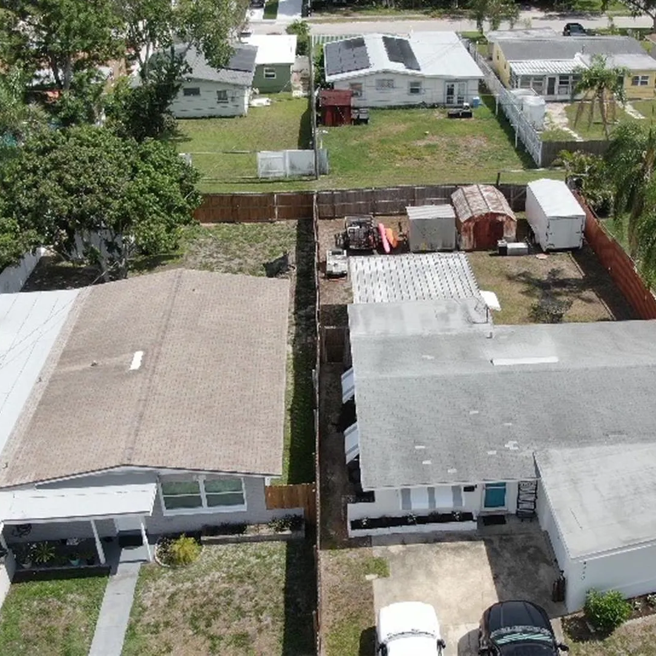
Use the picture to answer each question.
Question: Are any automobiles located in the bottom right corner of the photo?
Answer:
Yes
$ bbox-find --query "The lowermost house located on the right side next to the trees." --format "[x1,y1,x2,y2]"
[348,255,656,614]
